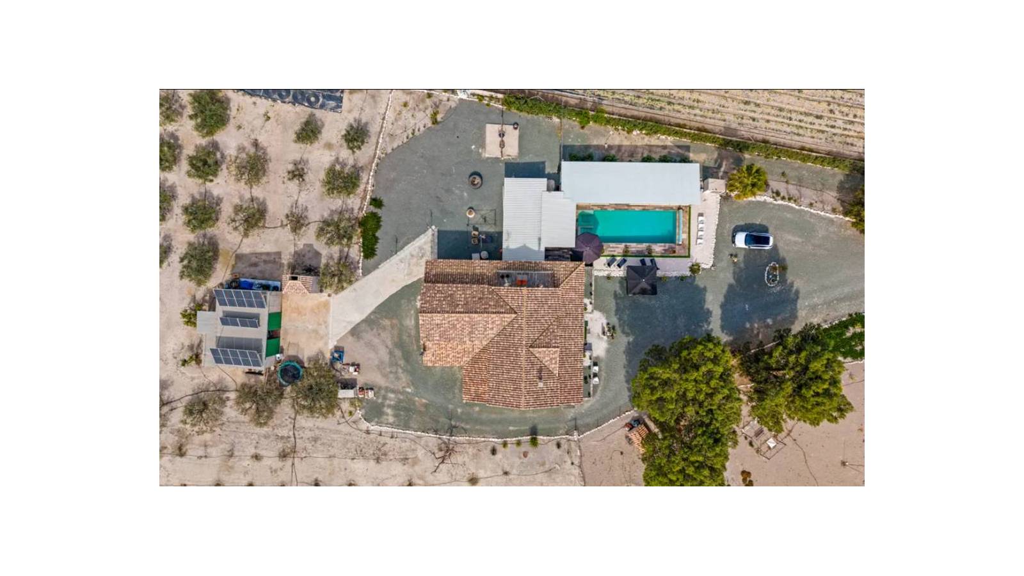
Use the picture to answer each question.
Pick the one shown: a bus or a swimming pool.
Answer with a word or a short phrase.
swimming pool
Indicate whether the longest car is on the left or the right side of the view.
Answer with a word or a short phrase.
right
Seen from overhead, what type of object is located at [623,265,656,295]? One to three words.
gazebo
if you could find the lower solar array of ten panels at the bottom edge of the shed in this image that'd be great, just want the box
[210,348,263,367]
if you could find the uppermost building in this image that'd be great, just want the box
[560,161,704,206]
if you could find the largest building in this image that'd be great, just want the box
[418,259,584,411]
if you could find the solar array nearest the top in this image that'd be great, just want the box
[214,289,266,308]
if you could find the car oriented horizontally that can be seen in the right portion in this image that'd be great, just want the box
[735,229,778,249]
